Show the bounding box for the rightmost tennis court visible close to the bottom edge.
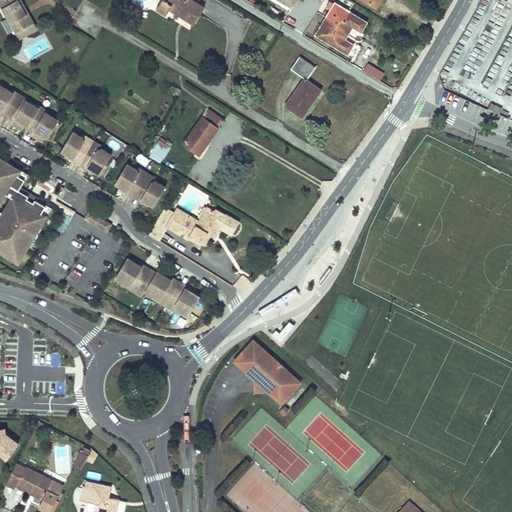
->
[286,396,381,488]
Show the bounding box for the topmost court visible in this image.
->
[318,295,368,356]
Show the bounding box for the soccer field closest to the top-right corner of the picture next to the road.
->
[354,136,512,364]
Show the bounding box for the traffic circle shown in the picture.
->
[86,336,188,438]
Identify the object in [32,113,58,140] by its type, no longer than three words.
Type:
house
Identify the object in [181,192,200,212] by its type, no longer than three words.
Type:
swimming pool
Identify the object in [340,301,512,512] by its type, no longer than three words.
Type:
soccer field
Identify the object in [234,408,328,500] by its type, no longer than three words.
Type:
tennis court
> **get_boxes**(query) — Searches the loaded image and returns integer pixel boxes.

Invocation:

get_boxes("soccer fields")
[463,419,512,512]
[354,136,512,364]
[340,301,512,512]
